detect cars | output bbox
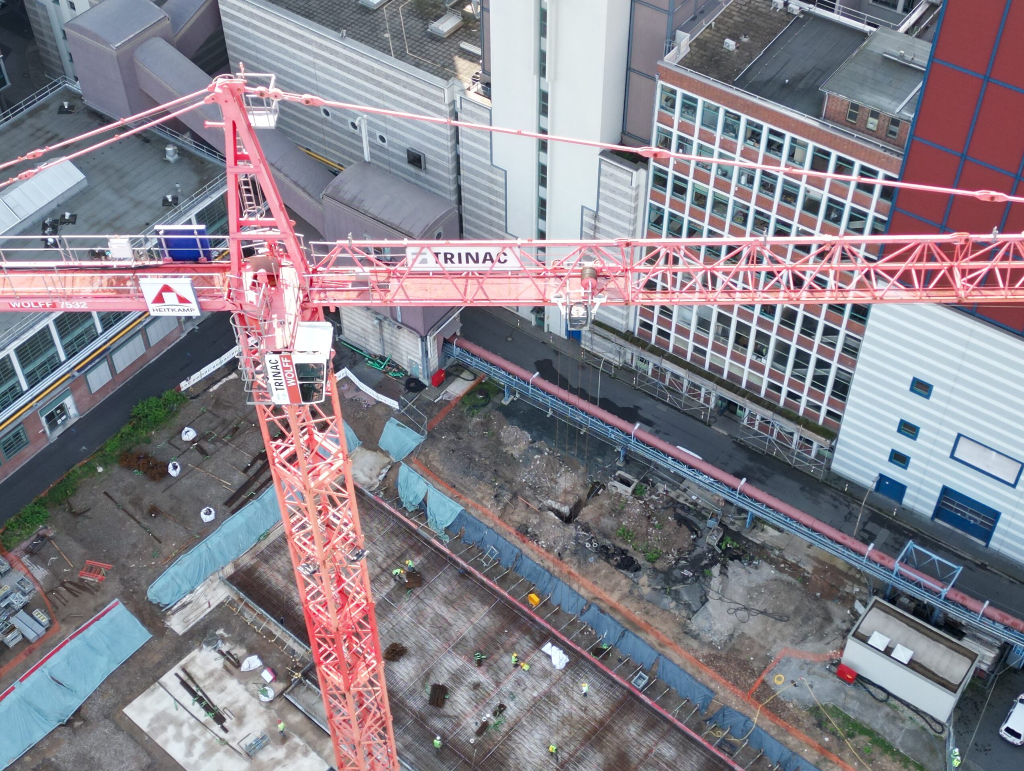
[999,683,1024,743]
